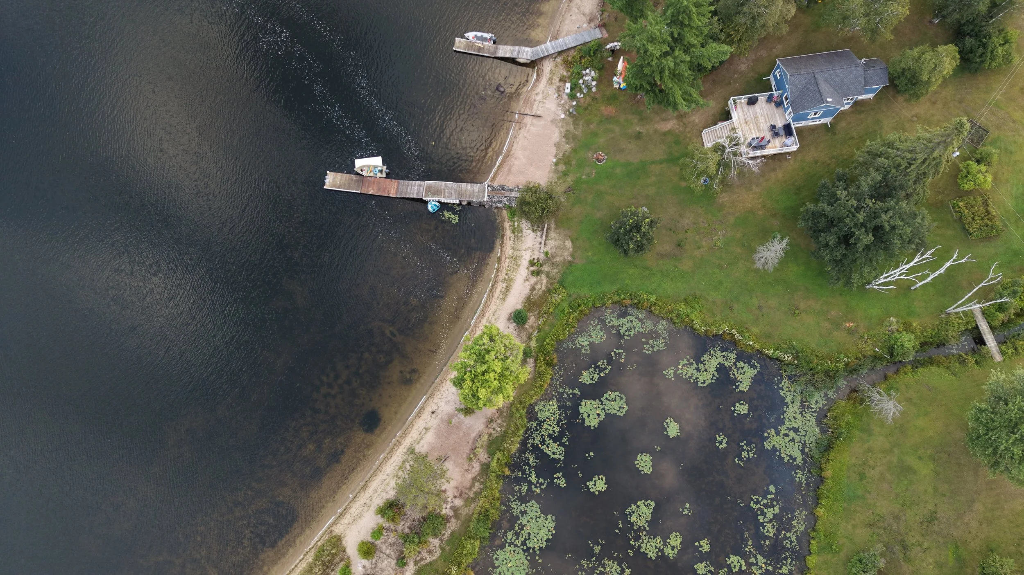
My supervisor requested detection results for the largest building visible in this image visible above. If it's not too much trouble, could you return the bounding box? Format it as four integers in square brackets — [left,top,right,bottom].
[766,48,890,123]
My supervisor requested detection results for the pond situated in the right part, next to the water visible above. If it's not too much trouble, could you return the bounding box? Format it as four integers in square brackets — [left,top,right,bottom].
[478,311,1001,575]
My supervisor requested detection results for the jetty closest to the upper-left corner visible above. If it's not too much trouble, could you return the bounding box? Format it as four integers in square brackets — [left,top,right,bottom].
[323,169,488,202]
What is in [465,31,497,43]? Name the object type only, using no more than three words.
boat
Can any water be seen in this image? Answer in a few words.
Yes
